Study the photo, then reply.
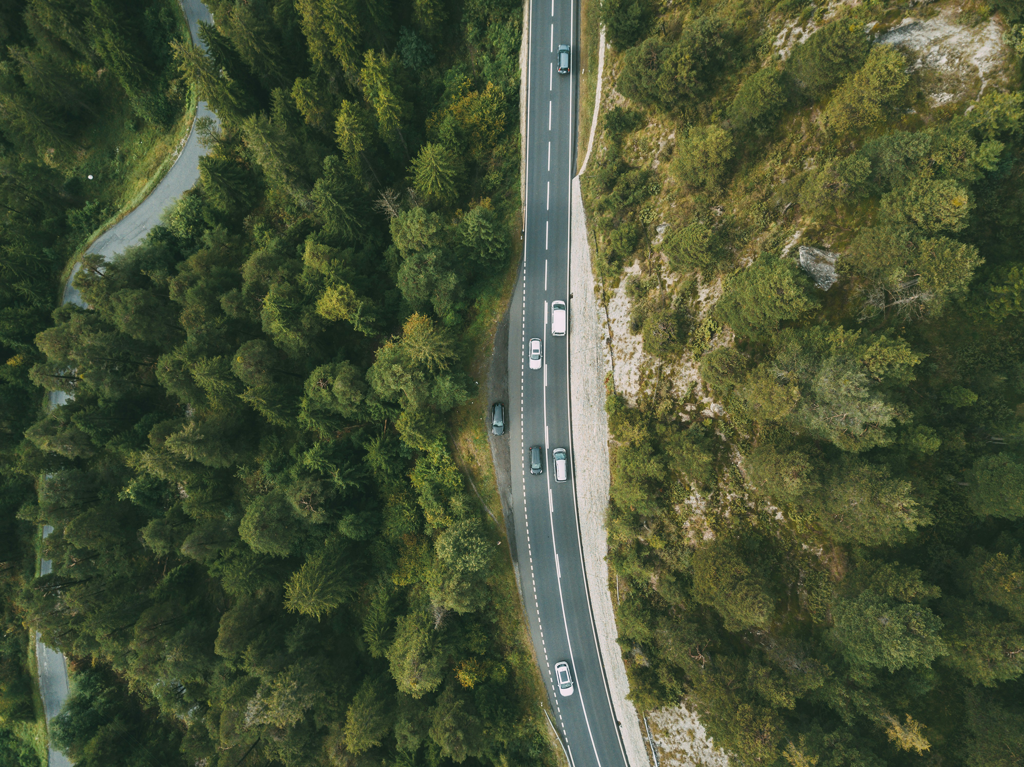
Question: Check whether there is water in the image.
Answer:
No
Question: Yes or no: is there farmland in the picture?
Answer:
No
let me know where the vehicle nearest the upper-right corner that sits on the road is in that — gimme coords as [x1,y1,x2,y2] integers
[557,45,571,76]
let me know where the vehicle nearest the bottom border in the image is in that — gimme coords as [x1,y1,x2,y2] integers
[555,661,573,695]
